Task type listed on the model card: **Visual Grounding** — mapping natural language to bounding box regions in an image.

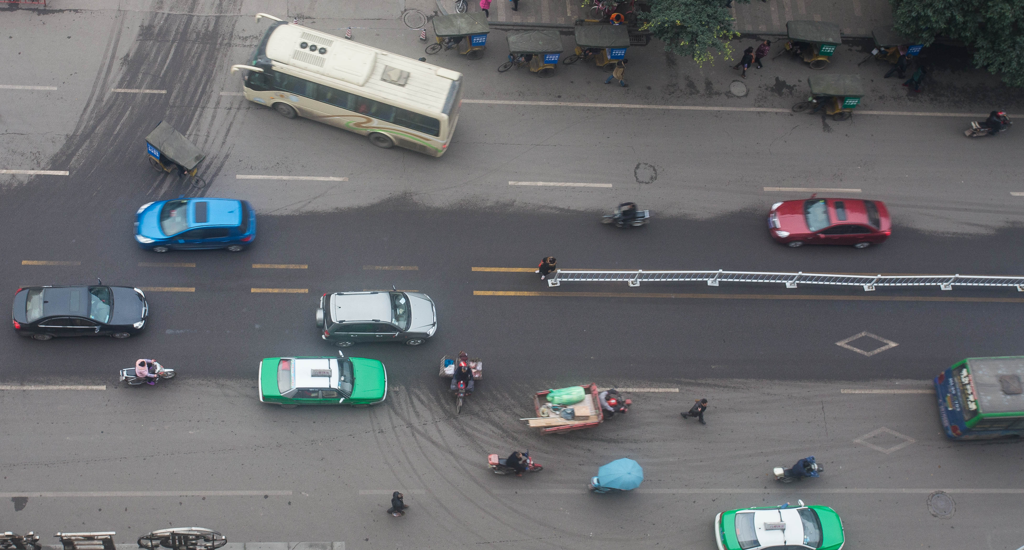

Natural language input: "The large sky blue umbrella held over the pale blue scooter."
[598,457,645,493]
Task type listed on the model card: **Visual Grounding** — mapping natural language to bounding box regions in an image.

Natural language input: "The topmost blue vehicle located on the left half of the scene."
[136,190,255,252]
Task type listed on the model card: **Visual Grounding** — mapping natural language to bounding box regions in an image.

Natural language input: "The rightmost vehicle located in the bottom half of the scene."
[937,358,1024,445]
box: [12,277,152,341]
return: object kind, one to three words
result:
car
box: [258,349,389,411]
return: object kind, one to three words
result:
car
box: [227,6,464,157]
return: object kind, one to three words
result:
bus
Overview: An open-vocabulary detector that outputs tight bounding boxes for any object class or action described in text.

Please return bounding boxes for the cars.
[713,500,841,550]
[769,191,889,249]
[136,190,255,252]
[315,286,439,350]
[258,349,389,411]
[12,277,152,341]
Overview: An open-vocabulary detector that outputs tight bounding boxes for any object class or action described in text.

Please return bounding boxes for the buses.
[937,358,1024,445]
[227,6,464,157]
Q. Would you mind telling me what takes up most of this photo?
paved ground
